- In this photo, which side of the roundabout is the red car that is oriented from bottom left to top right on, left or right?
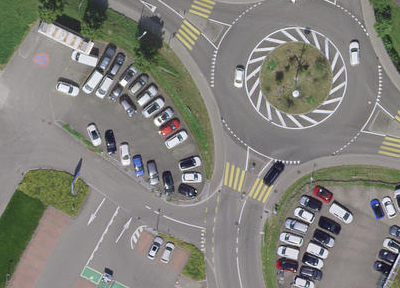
to the left of it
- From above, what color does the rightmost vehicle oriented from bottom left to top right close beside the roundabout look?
black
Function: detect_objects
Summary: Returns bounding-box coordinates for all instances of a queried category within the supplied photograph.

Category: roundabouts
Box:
[210,0,382,164]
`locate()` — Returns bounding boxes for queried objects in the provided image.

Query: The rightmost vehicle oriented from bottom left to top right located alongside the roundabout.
[262,160,284,188]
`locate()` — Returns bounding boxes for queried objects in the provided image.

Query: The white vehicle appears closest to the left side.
[56,81,80,96]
